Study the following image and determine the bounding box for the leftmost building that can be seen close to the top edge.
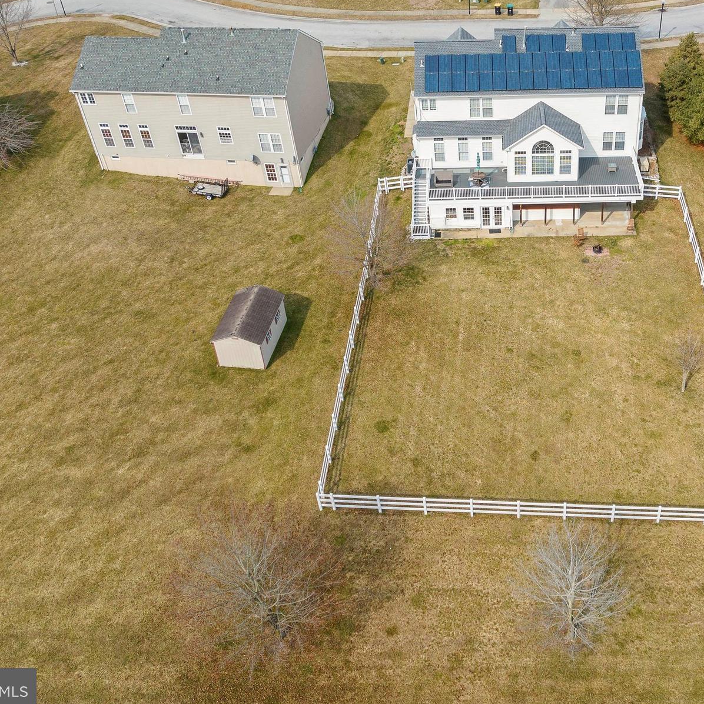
[73,25,343,184]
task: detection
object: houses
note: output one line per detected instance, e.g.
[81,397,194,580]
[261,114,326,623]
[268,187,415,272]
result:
[411,19,645,230]
[73,25,343,184]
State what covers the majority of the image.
grass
